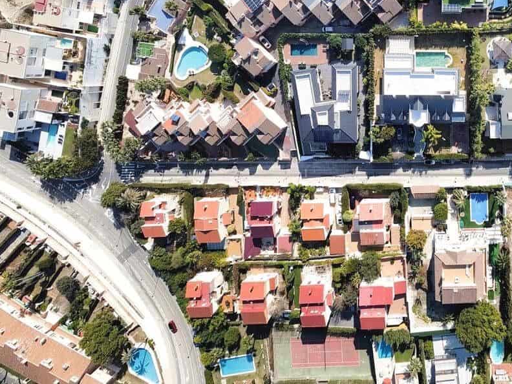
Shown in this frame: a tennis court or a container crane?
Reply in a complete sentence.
This aerial view contains a tennis court.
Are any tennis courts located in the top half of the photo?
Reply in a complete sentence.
No, I see no tennis court in the top half of the photo.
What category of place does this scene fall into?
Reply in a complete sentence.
This looks like a residential area.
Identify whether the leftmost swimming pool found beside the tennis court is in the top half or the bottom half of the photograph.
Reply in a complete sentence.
The leftmost swimming pool found beside the tennis court is in the bottom half of the image.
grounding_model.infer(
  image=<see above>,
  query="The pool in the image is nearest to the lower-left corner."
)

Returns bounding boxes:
[128,347,160,383]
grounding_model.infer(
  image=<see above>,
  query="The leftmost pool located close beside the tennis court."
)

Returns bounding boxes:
[218,354,257,378]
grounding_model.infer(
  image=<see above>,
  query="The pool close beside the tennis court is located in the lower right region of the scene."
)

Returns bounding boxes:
[376,338,394,360]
